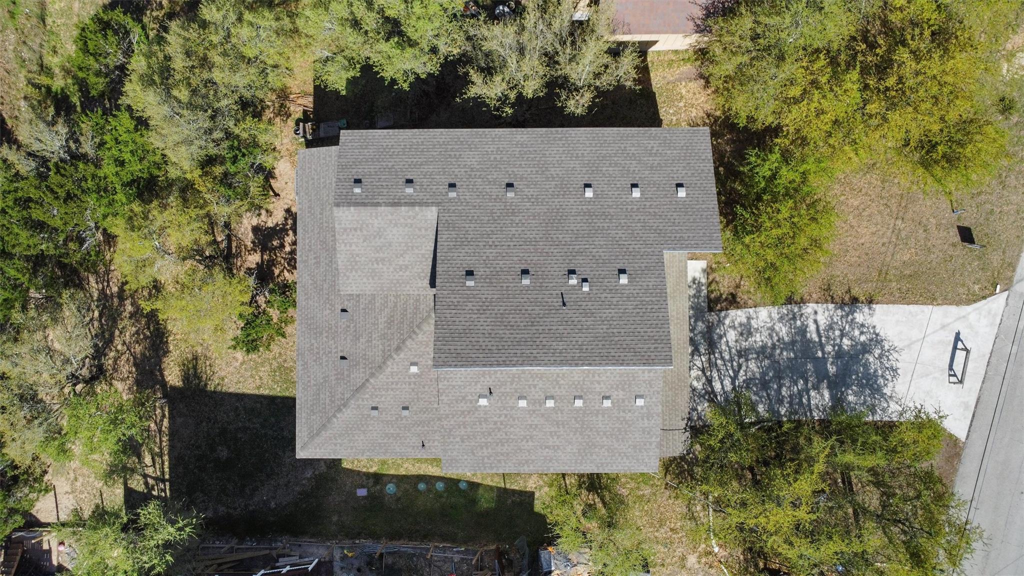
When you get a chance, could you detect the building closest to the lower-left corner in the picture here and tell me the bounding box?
[295,128,722,473]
